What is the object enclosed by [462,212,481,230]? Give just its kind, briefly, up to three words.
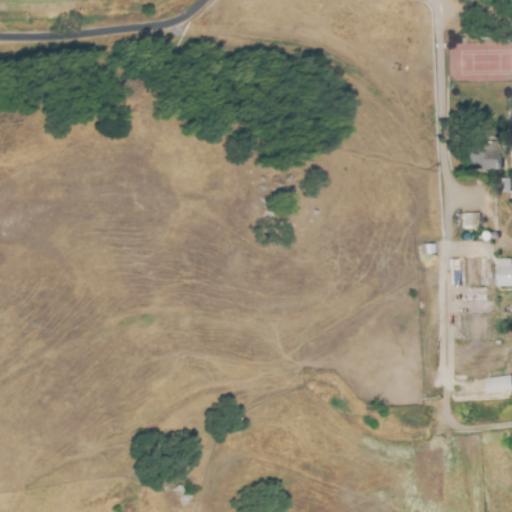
house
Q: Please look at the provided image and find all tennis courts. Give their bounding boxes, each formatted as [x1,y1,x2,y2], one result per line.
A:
[450,42,512,82]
